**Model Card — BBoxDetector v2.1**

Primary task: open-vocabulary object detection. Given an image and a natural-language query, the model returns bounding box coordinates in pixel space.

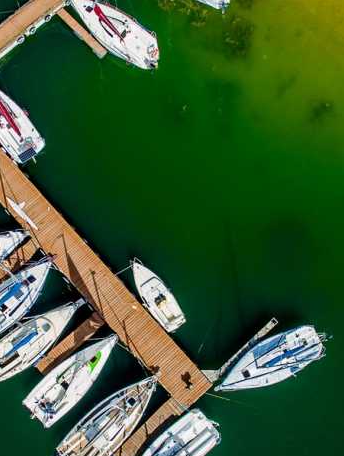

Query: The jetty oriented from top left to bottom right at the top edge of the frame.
[57,6,107,60]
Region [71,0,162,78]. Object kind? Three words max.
boat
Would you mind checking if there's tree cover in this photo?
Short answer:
No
